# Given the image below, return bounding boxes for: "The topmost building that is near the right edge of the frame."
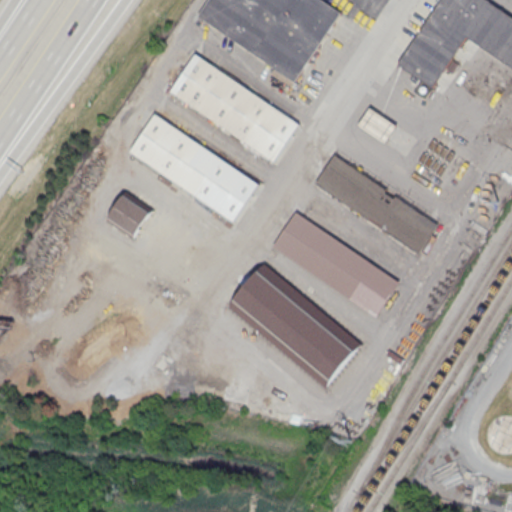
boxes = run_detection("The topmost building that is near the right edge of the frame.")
[398,0,512,88]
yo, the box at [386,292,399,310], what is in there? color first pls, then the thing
yellow vehicle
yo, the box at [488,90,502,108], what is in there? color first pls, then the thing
yellow vehicle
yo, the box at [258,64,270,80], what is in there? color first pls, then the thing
white vehicle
